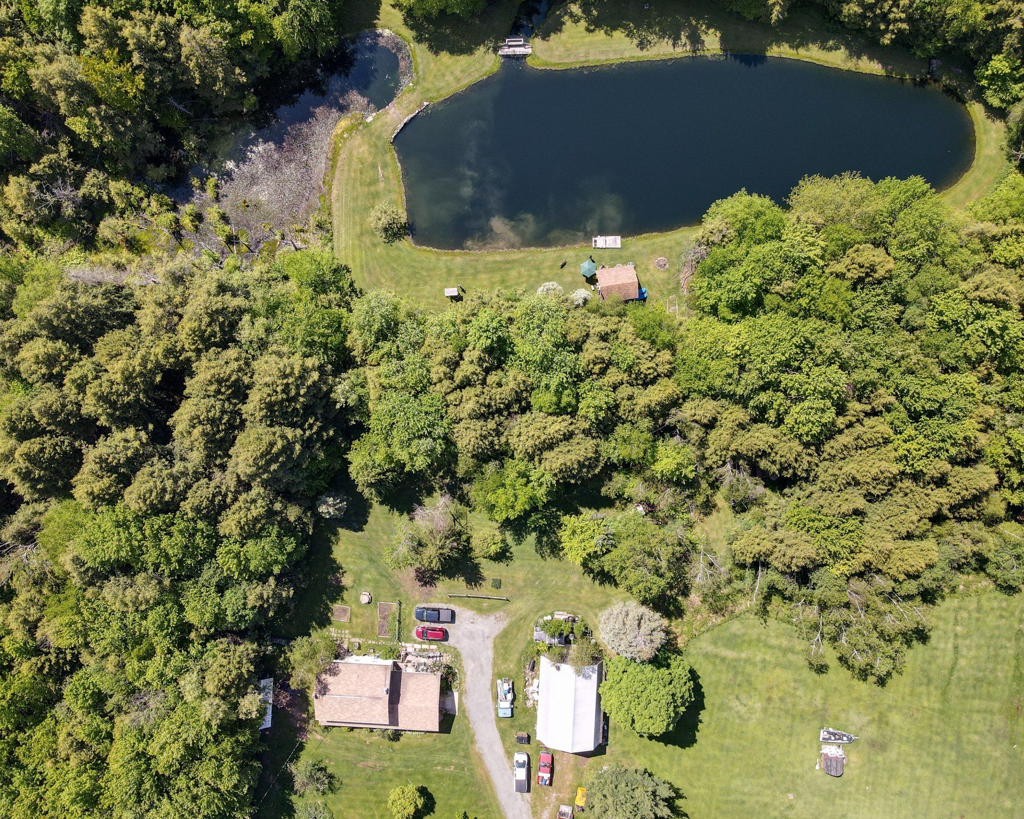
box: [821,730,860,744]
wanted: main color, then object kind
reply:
white boat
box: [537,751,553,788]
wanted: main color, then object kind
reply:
red vehicle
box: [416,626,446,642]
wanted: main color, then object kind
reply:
red car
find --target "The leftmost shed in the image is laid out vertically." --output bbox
[258,675,278,727]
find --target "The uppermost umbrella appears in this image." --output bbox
[581,260,596,276]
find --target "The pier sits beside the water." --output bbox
[592,236,621,248]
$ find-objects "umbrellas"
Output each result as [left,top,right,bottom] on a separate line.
[413,660,428,674]
[581,260,596,276]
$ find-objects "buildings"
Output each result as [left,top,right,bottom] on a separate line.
[536,650,605,754]
[307,652,441,732]
[596,265,639,303]
[258,675,278,727]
